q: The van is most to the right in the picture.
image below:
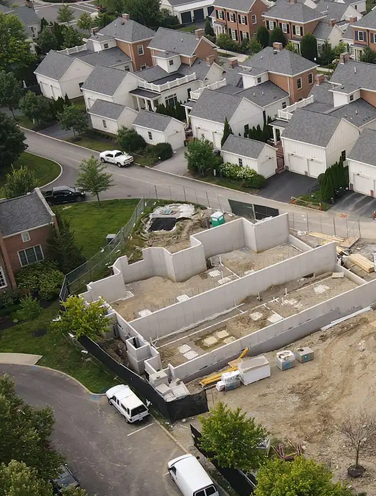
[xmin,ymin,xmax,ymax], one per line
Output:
[162,448,227,496]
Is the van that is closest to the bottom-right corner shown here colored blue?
No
